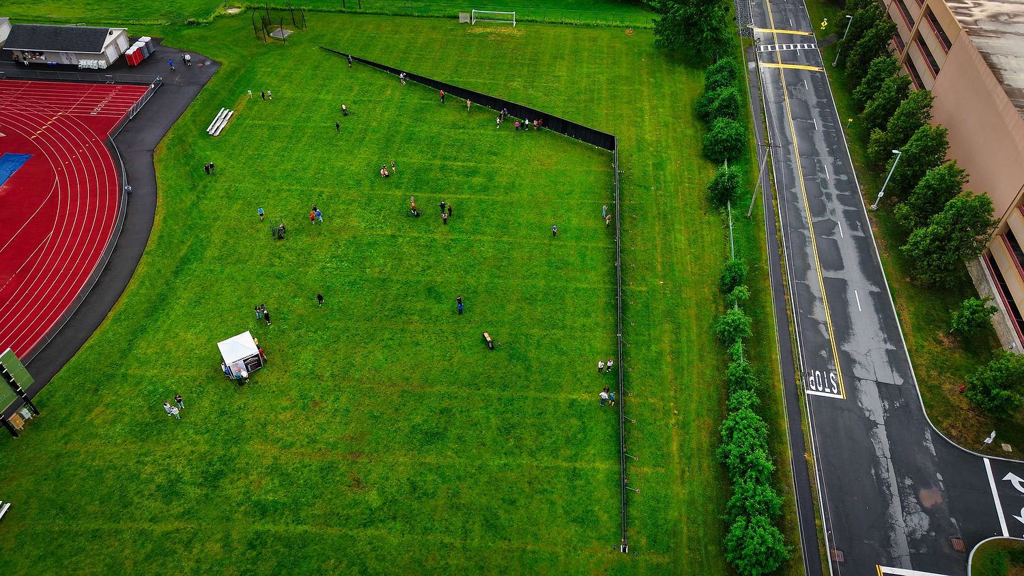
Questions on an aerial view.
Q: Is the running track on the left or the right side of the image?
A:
left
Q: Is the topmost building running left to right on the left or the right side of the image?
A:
left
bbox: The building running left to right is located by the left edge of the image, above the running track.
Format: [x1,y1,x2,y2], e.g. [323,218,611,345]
[3,23,131,66]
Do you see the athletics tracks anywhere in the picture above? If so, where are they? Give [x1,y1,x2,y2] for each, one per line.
[0,79,155,363]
